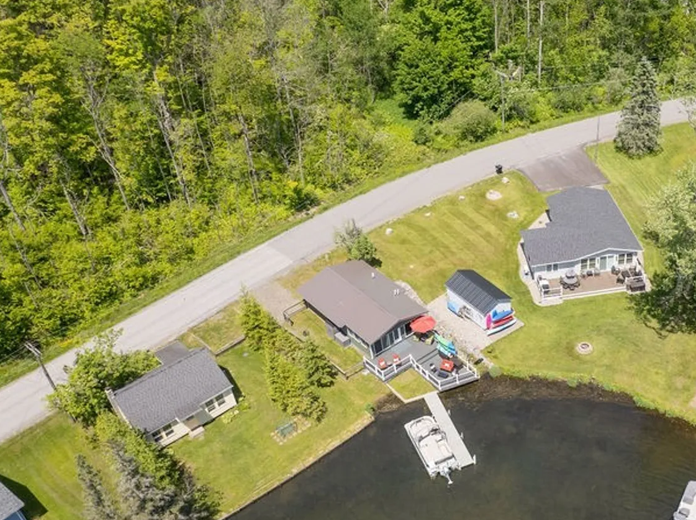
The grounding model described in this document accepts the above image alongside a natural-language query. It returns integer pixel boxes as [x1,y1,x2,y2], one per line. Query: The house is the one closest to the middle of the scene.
[300,261,429,360]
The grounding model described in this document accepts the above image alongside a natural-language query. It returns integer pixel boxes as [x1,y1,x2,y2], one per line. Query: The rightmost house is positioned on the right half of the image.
[517,185,646,282]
